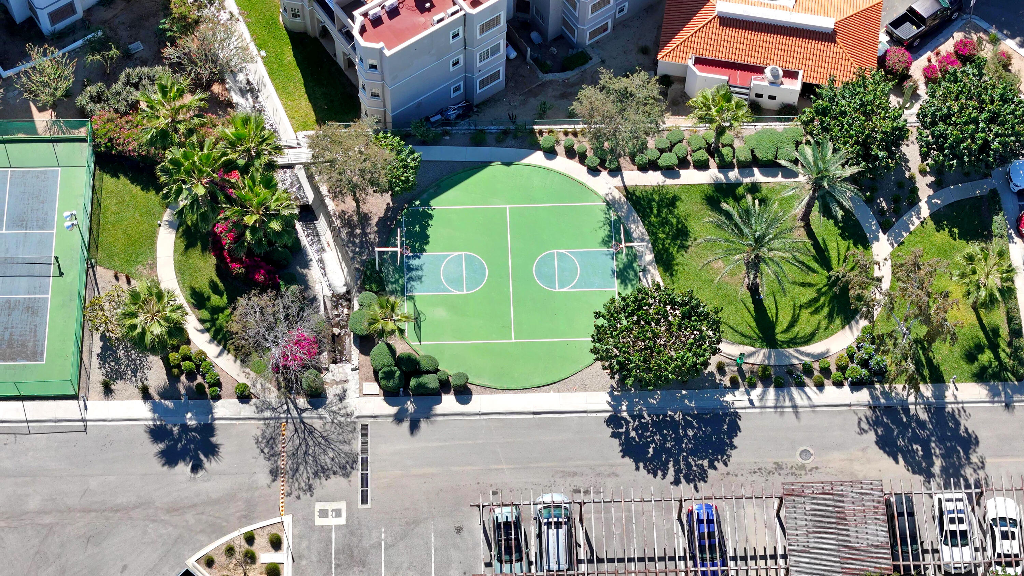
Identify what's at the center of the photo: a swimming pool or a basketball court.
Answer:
basketball court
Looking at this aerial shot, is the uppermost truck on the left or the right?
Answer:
right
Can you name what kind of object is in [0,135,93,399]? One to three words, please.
sports court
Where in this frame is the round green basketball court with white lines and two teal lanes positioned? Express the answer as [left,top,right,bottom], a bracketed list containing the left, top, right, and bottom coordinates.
[380,162,641,390]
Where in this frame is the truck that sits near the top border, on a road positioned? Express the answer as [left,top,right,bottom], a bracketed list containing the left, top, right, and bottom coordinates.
[884,0,966,47]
